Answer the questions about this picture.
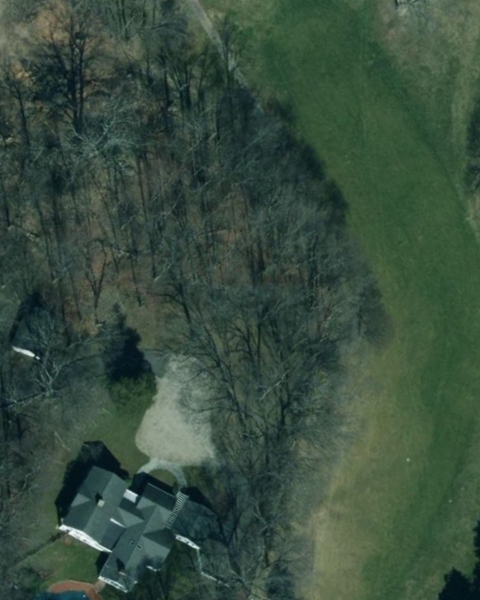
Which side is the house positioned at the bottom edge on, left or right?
left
